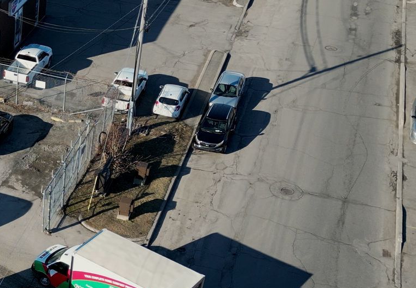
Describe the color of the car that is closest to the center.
black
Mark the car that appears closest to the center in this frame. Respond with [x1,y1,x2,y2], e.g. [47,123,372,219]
[193,99,237,152]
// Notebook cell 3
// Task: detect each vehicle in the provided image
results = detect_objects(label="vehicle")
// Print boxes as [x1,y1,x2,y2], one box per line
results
[151,81,190,118]
[193,99,237,152]
[100,66,149,116]
[1,43,54,88]
[27,229,205,288]
[0,107,15,139]
[211,74,248,115]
